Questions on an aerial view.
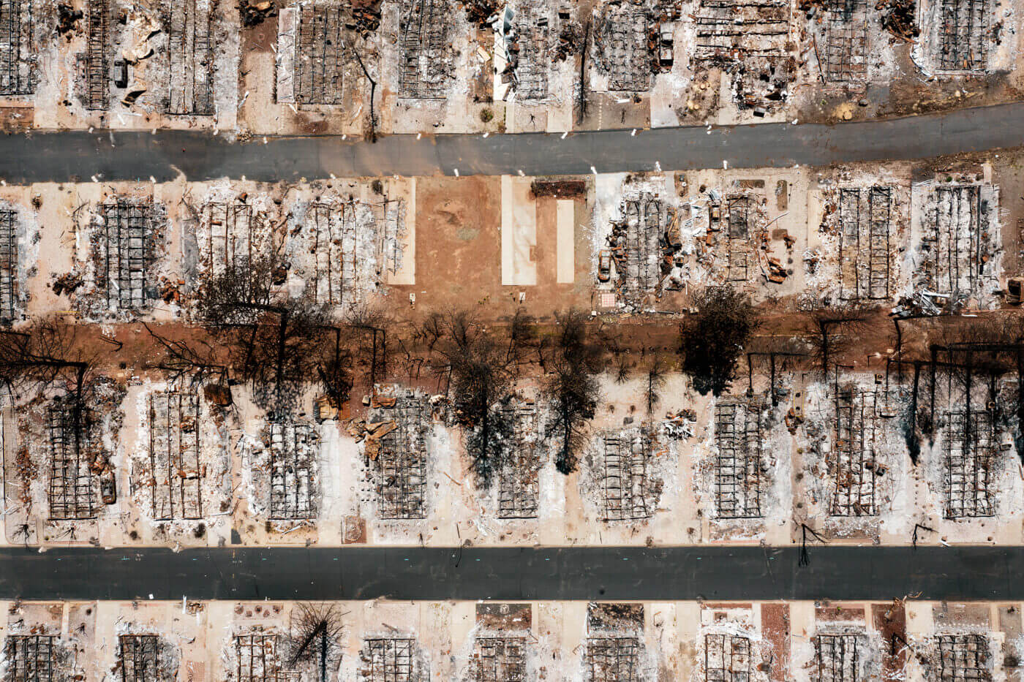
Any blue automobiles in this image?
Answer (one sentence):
No, the scene contains no blue automobile.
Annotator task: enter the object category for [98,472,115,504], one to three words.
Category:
car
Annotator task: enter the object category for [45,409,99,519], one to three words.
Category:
house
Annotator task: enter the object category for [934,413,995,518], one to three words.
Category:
house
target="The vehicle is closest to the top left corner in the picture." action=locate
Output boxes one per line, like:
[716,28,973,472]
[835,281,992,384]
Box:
[110,58,127,86]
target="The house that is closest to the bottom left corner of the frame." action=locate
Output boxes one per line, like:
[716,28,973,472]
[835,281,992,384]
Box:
[5,634,64,682]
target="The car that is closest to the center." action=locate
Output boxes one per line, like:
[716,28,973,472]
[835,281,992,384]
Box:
[599,250,612,281]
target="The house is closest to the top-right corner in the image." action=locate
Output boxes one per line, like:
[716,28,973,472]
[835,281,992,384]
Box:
[938,0,989,73]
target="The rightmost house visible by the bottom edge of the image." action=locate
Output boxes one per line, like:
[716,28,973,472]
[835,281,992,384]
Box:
[927,633,988,682]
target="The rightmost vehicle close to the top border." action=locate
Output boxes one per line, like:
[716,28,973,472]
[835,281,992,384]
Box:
[661,21,675,63]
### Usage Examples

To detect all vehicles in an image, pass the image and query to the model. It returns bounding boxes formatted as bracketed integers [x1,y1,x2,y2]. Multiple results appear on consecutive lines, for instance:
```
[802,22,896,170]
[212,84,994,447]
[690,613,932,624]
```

[661,21,675,63]
[98,472,115,504]
[110,58,127,86]
[599,250,612,281]
[1009,278,1024,303]
[709,202,723,231]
